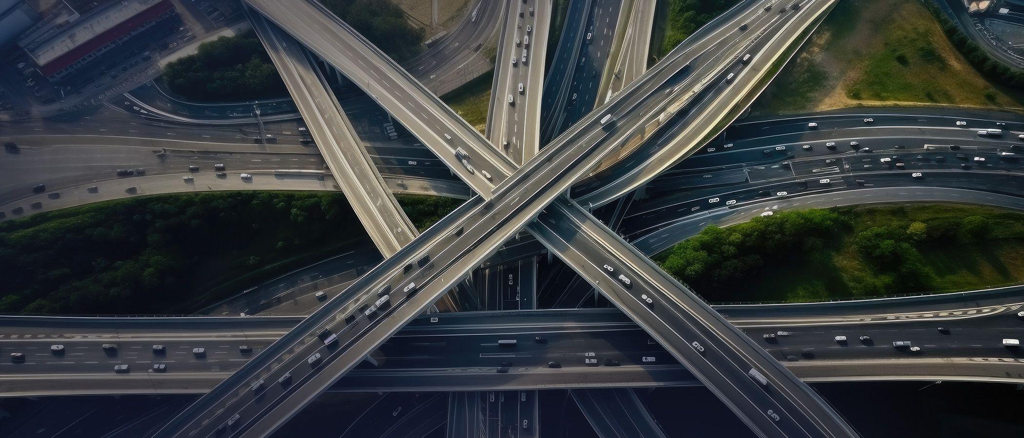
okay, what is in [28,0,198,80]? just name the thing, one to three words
building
